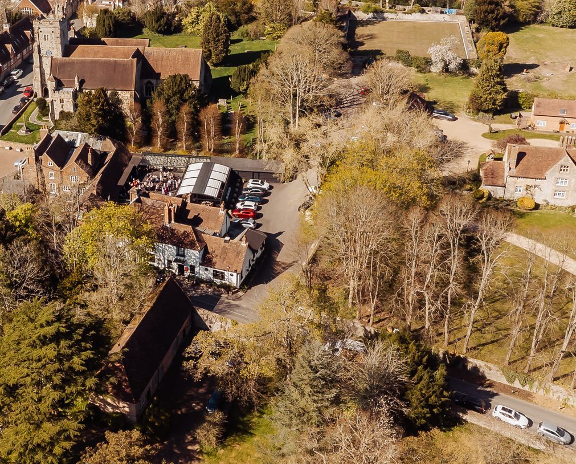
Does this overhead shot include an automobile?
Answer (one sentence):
Yes, there's an automobile down there.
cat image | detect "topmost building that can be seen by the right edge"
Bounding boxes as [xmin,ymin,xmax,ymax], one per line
[516,93,576,132]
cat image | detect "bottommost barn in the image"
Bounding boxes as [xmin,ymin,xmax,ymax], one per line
[92,274,198,428]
